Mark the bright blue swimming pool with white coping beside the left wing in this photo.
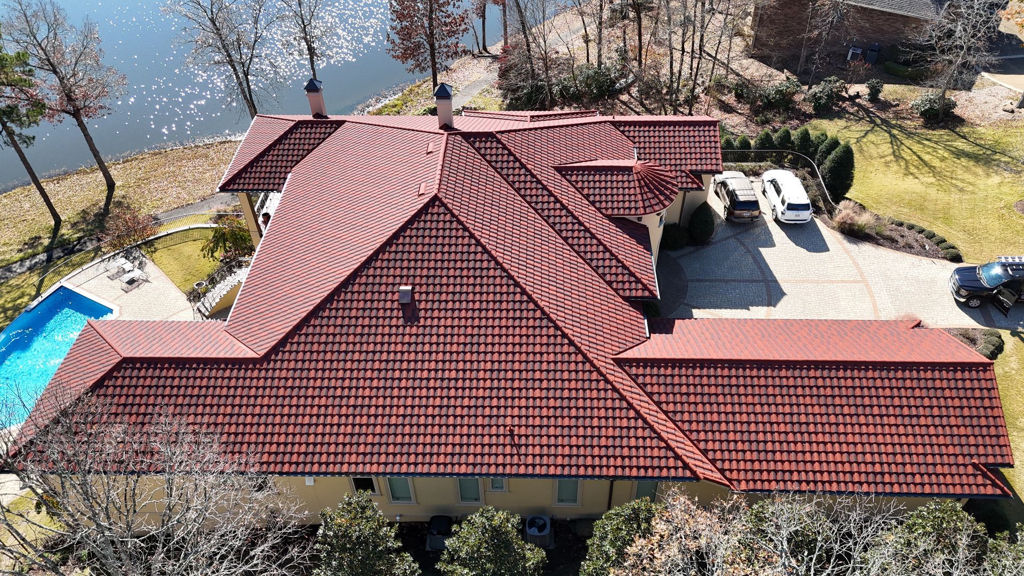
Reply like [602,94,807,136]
[0,282,120,432]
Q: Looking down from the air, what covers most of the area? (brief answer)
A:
buildings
